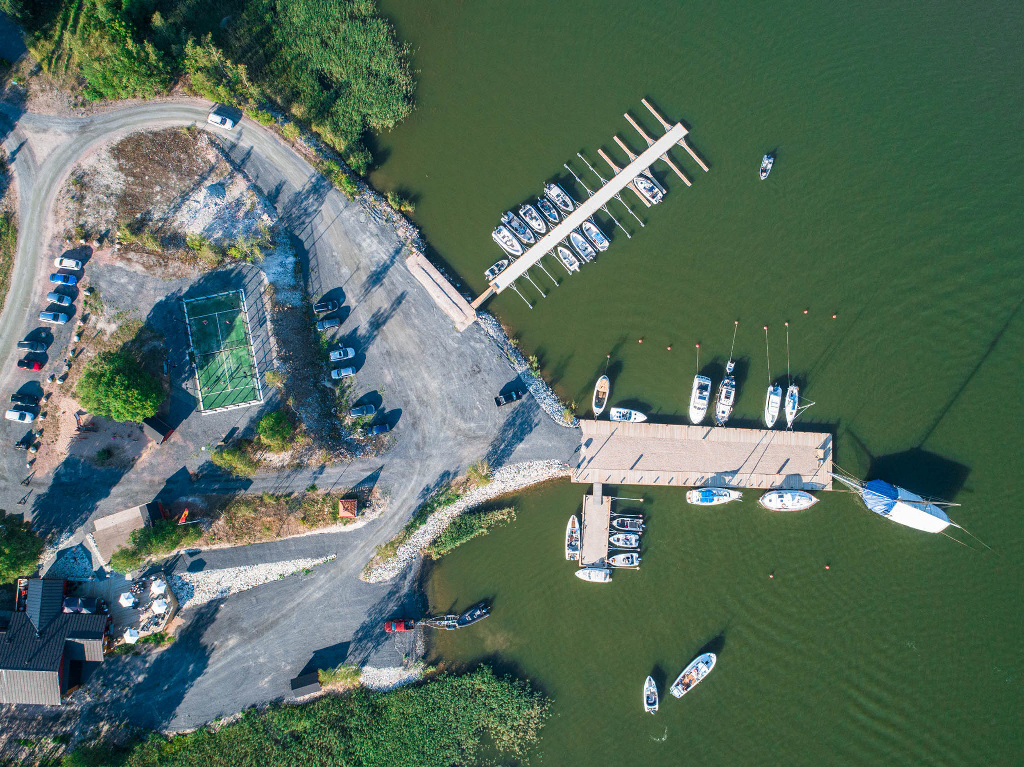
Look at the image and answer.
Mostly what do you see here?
water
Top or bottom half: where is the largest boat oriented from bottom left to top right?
bottom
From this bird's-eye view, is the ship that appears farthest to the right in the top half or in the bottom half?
bottom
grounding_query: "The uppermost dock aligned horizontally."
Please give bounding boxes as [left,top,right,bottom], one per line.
[571,419,833,491]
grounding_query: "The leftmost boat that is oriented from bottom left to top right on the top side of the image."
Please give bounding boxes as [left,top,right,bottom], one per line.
[484,261,508,279]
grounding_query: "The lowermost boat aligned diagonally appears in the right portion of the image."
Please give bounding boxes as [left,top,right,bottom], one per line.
[668,653,716,701]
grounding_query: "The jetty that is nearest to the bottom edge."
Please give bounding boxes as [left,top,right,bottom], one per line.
[578,494,644,570]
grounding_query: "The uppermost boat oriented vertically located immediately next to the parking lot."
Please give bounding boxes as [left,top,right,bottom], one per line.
[592,375,610,416]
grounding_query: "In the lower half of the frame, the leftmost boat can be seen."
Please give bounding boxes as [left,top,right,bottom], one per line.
[455,601,490,627]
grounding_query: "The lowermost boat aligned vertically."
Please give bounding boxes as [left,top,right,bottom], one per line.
[643,675,658,715]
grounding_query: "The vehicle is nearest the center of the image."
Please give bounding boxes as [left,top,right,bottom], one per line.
[494,389,524,407]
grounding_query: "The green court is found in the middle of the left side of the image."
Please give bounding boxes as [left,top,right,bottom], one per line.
[171,285,262,415]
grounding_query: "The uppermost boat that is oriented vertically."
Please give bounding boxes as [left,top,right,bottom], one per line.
[760,152,772,180]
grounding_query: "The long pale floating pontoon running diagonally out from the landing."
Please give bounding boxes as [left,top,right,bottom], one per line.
[488,98,709,309]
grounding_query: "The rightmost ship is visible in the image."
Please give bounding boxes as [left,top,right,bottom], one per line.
[827,471,965,534]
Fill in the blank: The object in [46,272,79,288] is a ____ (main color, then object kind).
blue car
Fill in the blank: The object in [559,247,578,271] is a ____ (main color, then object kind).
white boat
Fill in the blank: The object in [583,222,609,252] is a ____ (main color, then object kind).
white boat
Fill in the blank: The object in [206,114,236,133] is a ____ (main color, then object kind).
white car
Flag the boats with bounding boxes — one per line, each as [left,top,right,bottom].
[609,532,643,548]
[491,224,524,256]
[592,375,610,416]
[520,204,545,233]
[538,198,558,222]
[608,553,642,567]
[759,490,820,511]
[668,653,716,701]
[764,383,782,426]
[545,183,573,212]
[760,152,772,180]
[635,176,661,205]
[583,222,609,252]
[610,407,648,422]
[785,383,811,426]
[575,567,614,583]
[726,360,736,373]
[501,212,534,243]
[455,601,490,627]
[688,375,711,424]
[559,247,578,271]
[612,517,647,530]
[714,375,739,425]
[571,232,597,262]
[643,675,658,715]
[484,261,508,279]
[565,515,580,563]
[685,487,742,505]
